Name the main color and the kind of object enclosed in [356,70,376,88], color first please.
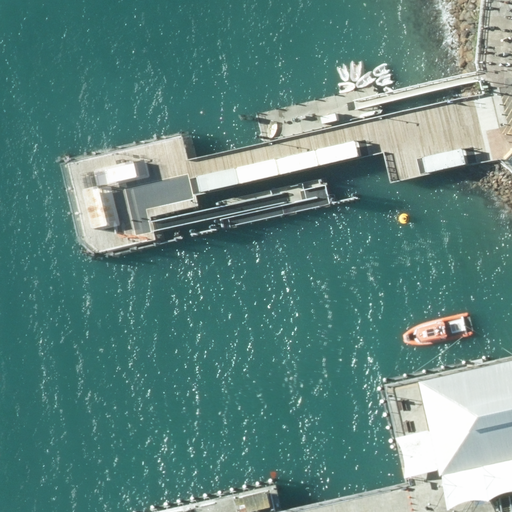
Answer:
white boat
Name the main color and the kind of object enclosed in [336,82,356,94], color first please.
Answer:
white boat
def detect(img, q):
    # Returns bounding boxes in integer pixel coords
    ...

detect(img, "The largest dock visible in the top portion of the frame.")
[56,92,491,259]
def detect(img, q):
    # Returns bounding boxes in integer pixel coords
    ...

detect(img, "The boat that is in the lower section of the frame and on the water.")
[402,313,478,345]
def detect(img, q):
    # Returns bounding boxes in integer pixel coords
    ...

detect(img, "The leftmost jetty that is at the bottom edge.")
[140,482,280,512]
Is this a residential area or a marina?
marina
